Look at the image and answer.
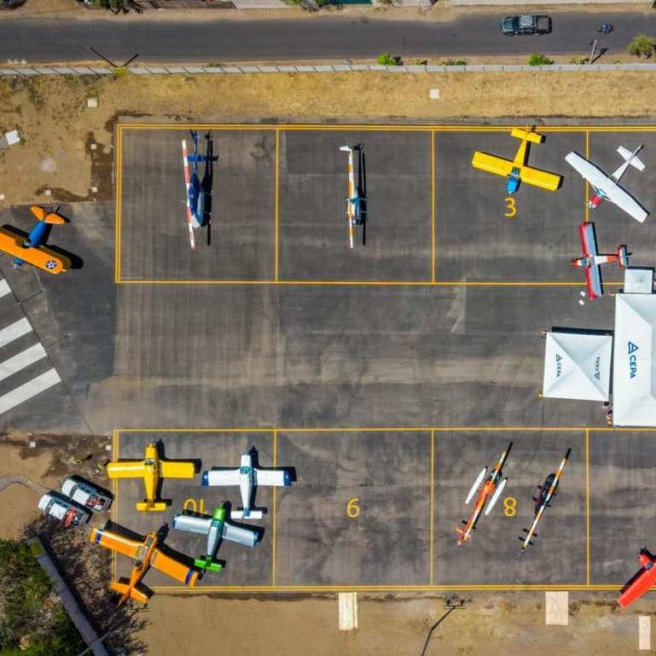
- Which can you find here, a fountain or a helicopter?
helicopter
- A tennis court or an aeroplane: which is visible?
aeroplane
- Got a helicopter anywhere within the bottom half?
Yes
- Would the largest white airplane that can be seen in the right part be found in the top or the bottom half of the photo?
top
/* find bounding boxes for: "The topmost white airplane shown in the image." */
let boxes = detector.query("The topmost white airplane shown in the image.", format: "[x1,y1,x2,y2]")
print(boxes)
[566,148,648,223]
